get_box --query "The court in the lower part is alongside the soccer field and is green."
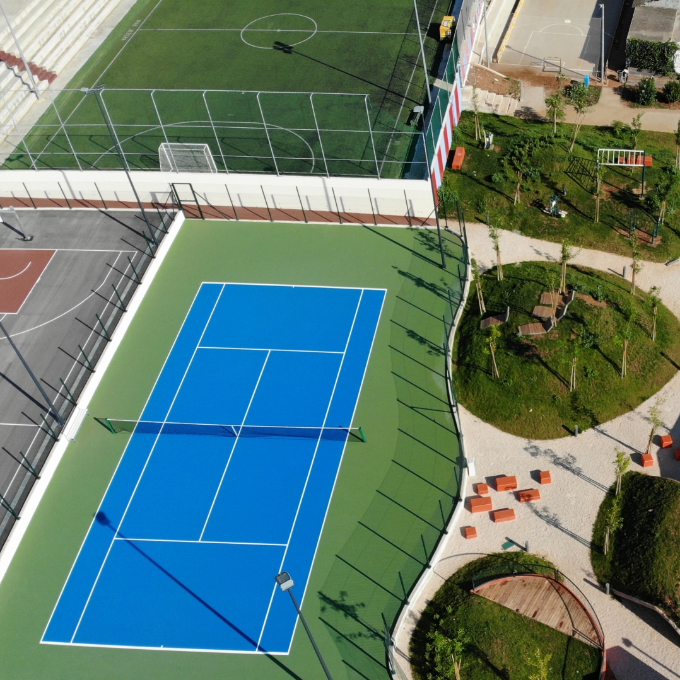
[0,220,465,680]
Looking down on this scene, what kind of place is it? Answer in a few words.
sports ground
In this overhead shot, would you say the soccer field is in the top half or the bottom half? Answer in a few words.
top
